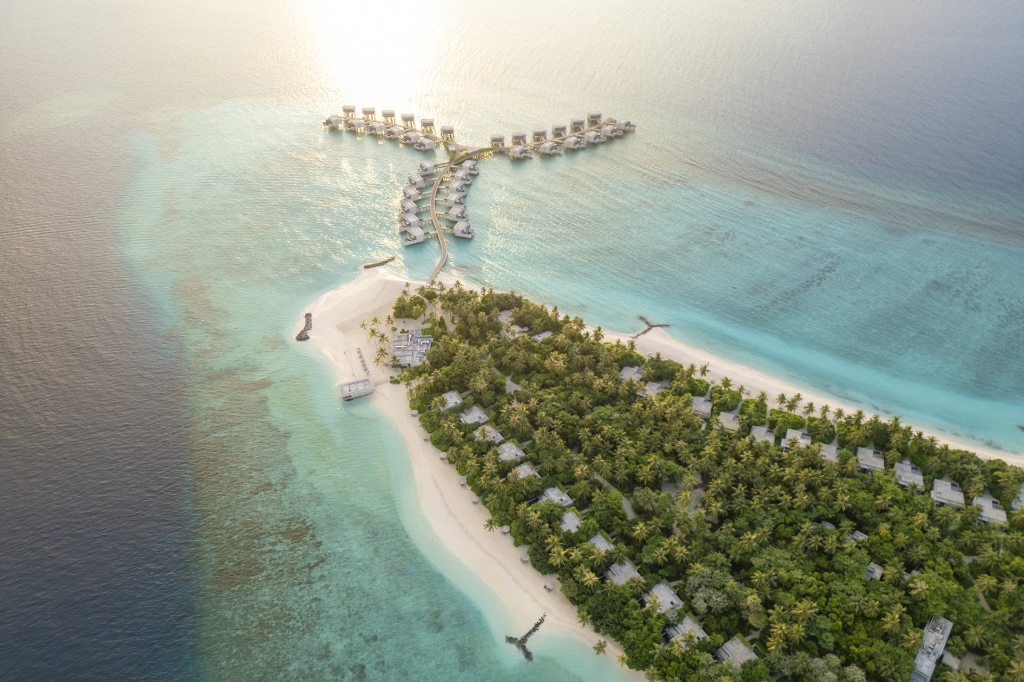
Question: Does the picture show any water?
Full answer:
Yes, water can be seen from above here.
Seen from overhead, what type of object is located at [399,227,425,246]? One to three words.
house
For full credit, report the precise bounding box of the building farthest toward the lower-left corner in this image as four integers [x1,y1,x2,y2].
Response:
[340,379,378,405]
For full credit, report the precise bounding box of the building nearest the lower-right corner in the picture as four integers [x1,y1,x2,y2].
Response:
[894,616,953,682]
